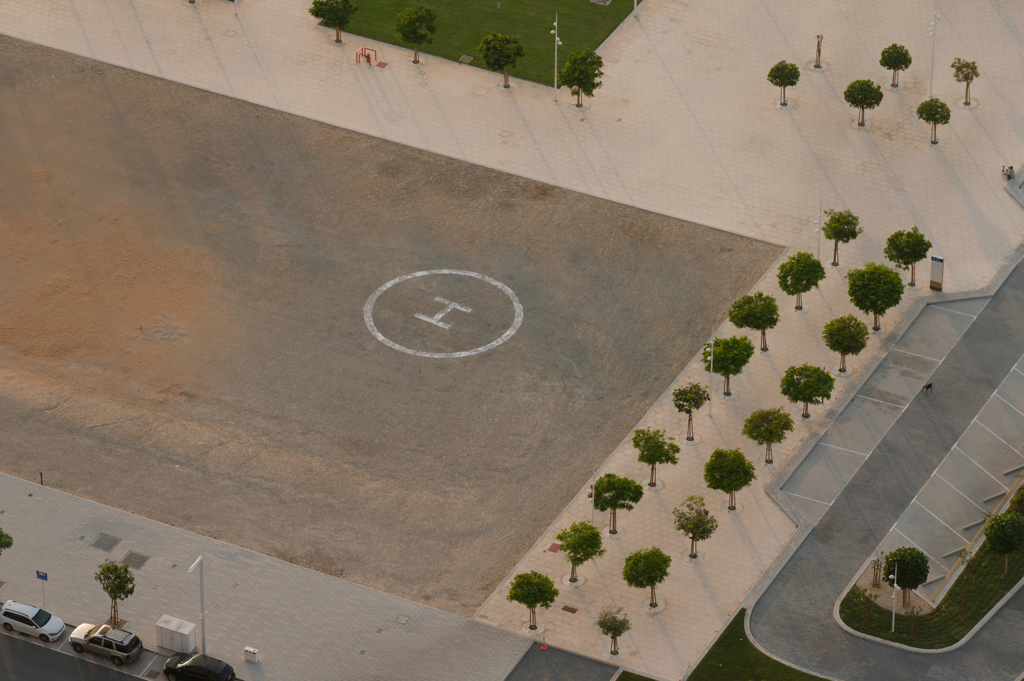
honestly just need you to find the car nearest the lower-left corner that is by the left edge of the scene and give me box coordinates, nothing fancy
[0,598,67,643]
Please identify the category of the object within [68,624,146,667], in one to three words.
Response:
car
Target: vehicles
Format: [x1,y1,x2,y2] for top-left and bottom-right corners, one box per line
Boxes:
[68,624,146,667]
[162,654,237,681]
[0,598,67,643]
